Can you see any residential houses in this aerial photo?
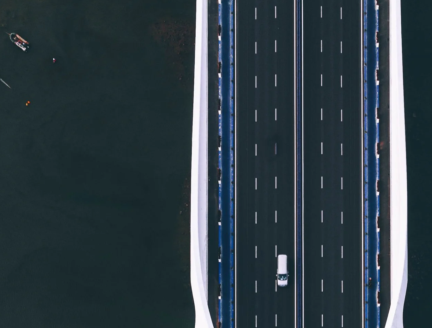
No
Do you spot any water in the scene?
Yes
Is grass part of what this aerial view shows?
No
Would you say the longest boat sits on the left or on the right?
left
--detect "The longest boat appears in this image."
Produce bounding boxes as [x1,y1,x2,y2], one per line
[9,31,30,55]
